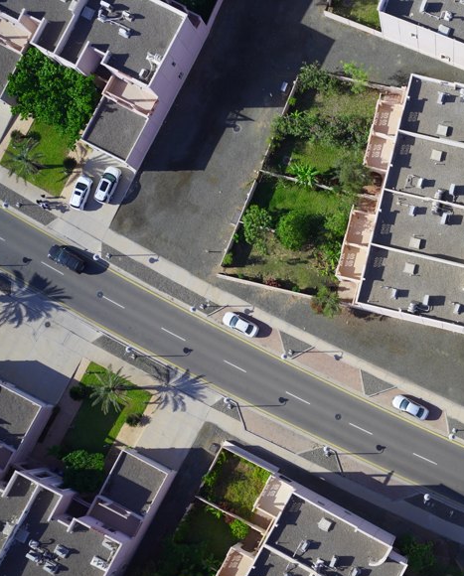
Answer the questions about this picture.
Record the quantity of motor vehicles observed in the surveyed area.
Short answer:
5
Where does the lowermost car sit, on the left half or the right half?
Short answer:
right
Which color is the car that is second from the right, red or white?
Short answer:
white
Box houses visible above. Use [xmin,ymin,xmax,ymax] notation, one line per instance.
[0,0,210,170]
[334,75,464,332]
[221,475,412,576]
[379,0,464,66]
[0,374,179,576]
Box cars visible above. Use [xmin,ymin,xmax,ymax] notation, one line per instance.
[95,166,123,205]
[69,174,94,210]
[391,395,430,420]
[223,310,260,338]
[49,244,90,275]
